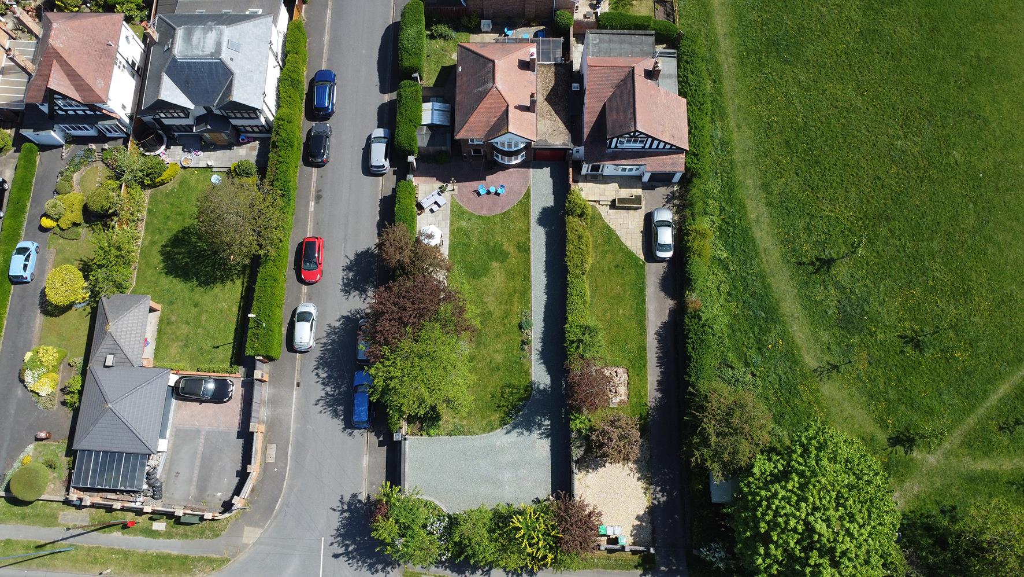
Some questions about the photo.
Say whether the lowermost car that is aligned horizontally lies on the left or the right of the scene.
left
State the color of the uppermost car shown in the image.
blue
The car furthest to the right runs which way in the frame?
up and down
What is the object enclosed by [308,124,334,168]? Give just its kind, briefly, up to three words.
car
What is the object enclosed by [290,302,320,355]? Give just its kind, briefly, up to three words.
car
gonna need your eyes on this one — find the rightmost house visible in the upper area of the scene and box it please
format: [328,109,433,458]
[571,29,692,180]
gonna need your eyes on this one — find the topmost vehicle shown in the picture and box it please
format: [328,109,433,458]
[312,72,339,122]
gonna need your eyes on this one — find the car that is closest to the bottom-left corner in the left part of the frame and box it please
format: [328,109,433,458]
[173,375,237,403]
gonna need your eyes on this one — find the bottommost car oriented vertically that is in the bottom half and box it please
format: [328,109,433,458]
[347,370,376,429]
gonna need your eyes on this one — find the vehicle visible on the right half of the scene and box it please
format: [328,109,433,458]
[649,208,675,261]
